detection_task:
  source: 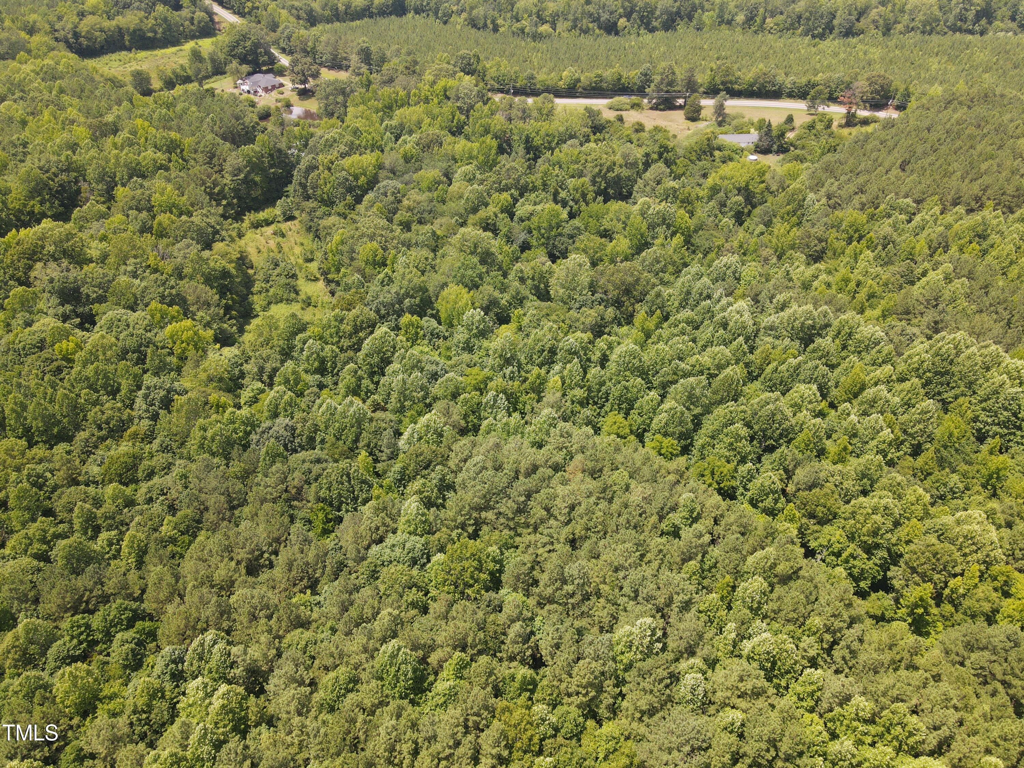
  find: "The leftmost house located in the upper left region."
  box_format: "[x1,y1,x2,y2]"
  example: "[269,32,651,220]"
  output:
[243,69,284,94]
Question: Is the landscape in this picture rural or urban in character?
rural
